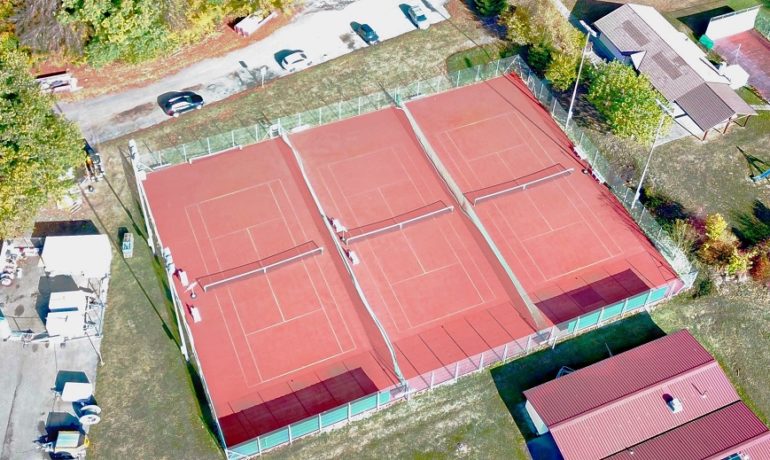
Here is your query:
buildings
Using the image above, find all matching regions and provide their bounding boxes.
[523,325,770,460]
[41,235,113,280]
[591,3,759,143]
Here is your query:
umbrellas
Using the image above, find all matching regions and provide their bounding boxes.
[723,65,757,91]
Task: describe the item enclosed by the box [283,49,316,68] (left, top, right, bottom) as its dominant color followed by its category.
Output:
white car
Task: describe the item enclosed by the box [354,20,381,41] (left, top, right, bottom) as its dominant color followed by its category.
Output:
blue car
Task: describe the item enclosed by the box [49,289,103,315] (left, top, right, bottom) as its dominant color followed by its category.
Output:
white trailer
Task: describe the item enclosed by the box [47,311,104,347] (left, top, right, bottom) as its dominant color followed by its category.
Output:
white trailer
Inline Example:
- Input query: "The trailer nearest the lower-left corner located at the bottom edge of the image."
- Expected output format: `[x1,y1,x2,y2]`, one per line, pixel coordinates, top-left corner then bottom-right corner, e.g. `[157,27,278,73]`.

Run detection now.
[44,430,84,455]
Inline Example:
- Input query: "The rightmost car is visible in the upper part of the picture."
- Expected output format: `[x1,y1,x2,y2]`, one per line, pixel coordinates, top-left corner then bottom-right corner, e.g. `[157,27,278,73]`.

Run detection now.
[405,4,432,27]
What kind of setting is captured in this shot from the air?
sports ground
